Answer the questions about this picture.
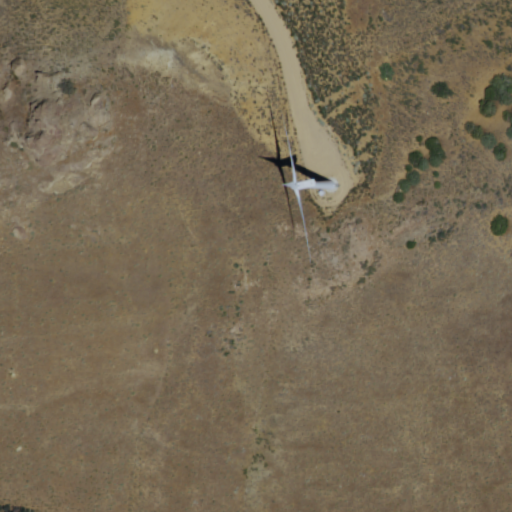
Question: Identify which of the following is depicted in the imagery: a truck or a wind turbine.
wind turbine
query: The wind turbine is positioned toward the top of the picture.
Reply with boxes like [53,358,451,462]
[283,118,342,259]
